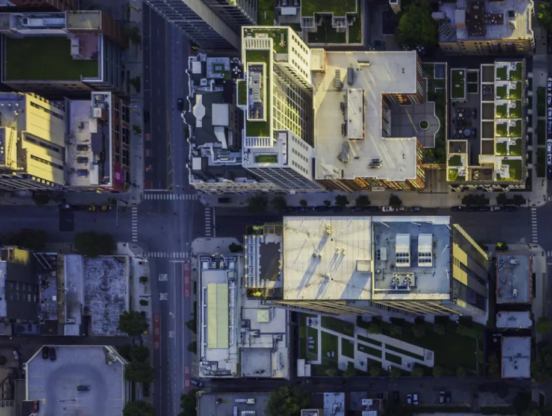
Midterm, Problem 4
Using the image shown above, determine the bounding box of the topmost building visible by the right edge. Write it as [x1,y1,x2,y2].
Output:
[432,0,536,58]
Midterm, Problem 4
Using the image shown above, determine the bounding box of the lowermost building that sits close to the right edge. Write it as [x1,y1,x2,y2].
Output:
[501,337,533,378]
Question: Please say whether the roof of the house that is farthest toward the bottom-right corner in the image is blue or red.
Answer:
blue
